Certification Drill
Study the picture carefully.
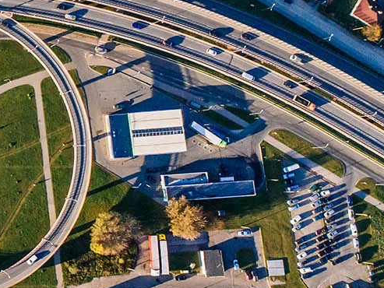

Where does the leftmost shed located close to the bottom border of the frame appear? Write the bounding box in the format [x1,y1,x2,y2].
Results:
[198,249,225,277]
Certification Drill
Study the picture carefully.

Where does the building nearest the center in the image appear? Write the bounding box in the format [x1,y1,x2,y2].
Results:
[157,173,256,201]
